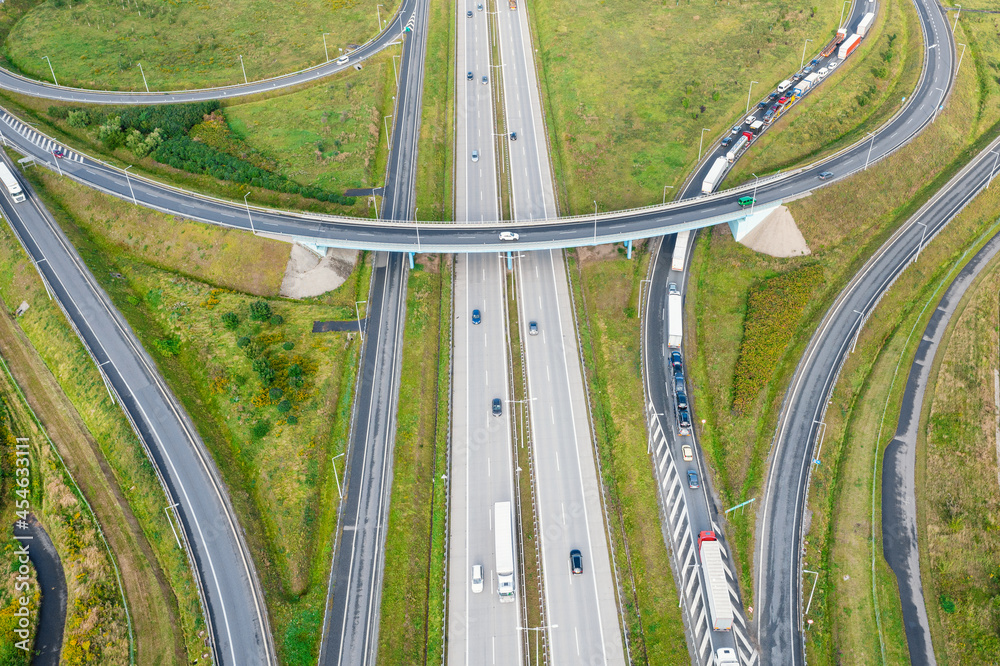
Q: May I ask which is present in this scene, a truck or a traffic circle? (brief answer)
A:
truck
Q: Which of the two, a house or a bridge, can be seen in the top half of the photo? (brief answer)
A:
bridge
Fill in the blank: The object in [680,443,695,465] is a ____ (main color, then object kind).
white car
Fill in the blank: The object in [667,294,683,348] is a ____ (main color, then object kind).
white vehicle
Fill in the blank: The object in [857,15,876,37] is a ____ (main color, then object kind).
white vehicle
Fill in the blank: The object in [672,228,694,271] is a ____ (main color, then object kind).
white truck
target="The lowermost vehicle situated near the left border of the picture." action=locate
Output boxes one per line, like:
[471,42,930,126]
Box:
[0,164,25,204]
